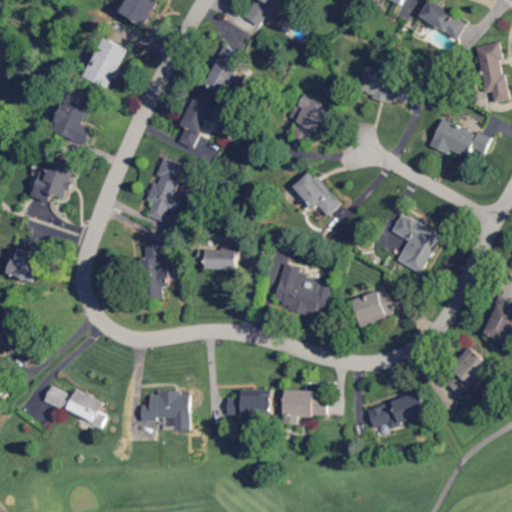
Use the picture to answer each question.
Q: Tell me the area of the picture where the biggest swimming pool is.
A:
top right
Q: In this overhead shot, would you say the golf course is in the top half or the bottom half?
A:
bottom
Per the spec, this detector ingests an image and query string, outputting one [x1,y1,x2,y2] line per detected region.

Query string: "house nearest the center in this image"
[202,249,236,270]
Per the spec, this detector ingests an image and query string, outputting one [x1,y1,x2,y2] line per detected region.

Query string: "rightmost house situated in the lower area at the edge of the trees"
[484,295,512,338]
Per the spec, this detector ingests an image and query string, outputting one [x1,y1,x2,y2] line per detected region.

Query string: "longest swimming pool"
[413,27,458,50]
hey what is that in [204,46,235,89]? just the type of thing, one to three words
house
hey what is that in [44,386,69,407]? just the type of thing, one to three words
building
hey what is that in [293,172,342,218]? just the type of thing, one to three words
house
